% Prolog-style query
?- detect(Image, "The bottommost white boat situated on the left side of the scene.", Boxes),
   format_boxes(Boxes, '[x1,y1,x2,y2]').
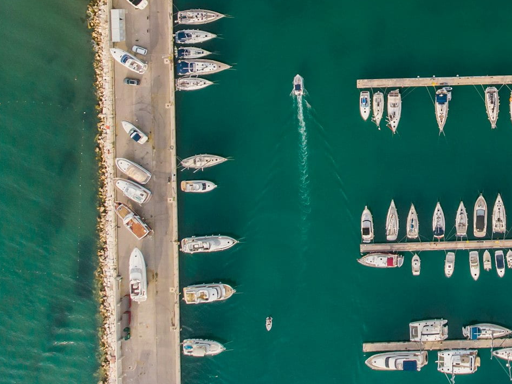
[181,342,225,359]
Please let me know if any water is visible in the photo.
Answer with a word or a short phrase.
Yes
